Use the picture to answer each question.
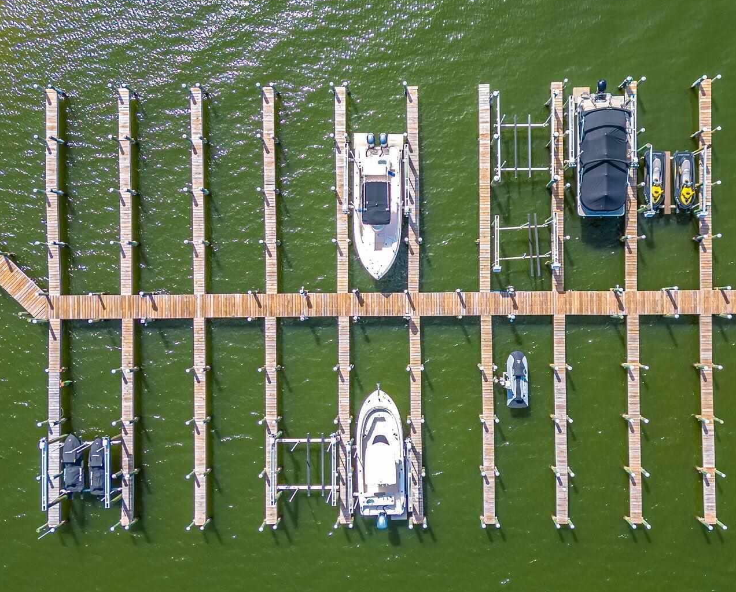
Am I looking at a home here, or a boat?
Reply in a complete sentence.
I can see a boat in this picture.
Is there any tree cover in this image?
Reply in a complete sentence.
No, no tree cover is visible.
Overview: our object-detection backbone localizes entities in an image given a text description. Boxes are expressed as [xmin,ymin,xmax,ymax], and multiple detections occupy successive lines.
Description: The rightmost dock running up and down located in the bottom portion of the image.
[692,315,727,529]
